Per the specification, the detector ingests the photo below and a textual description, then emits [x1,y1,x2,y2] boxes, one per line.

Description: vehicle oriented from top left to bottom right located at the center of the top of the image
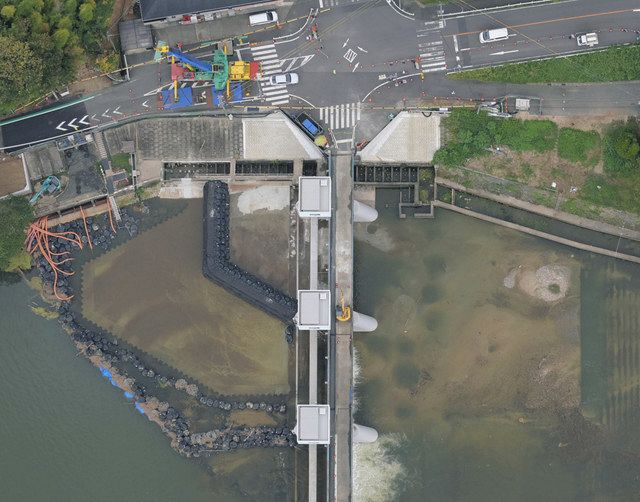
[294,111,325,139]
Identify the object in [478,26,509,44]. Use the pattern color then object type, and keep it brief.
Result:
white vehicle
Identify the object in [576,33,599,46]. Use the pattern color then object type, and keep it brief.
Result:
white vehicle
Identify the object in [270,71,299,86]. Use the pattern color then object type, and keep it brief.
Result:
white car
